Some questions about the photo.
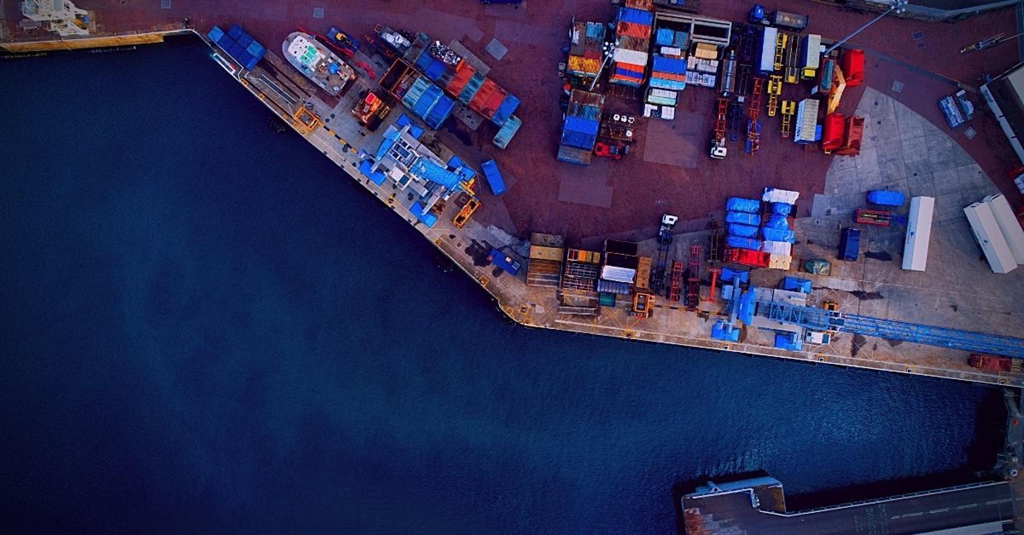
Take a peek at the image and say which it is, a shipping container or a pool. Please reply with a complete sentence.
Visible in the photo is a shipping container.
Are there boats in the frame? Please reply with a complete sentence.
Yes, a boat can be made out from above.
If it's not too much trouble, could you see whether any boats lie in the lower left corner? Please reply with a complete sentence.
No, in the lower left corner there is no boat.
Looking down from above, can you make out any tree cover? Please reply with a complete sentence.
No, the picture contains no tree cover.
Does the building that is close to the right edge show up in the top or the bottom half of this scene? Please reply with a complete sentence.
It is in the top half that the building that is close to the right edge appears.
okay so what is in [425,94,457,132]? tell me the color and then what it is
blue shipping container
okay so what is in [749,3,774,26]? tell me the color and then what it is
blue truck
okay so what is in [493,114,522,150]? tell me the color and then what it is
blue shipping container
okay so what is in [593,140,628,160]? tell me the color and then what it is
red vehicle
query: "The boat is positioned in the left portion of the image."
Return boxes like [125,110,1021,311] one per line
[282,31,356,95]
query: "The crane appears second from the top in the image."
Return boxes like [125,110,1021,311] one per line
[358,113,477,229]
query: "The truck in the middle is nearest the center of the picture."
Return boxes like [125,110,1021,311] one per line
[486,247,523,277]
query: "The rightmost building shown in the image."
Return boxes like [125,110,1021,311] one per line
[973,70,1024,169]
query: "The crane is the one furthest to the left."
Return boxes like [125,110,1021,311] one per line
[22,0,98,41]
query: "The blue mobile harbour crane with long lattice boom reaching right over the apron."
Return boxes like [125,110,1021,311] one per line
[710,266,1024,360]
